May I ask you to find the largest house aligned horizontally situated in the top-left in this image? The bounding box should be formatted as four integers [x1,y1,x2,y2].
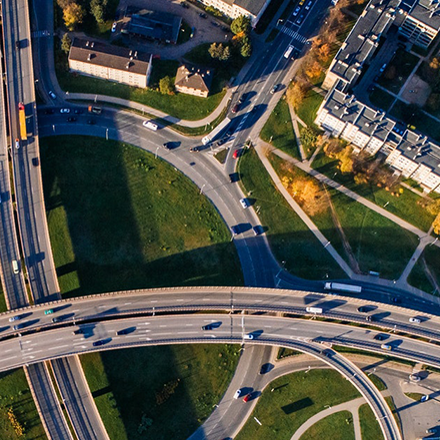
[69,37,153,84]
